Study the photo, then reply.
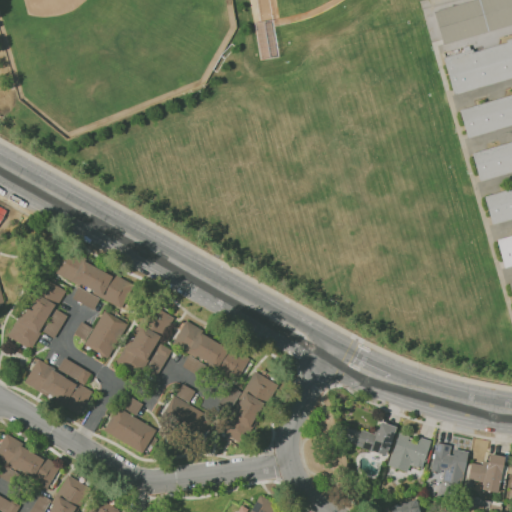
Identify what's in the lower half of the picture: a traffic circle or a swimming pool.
swimming pool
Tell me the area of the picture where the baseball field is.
top left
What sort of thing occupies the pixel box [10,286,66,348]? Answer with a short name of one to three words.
house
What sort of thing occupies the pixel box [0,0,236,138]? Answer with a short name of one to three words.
baseball field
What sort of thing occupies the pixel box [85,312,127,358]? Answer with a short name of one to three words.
house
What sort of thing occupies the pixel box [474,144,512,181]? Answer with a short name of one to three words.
building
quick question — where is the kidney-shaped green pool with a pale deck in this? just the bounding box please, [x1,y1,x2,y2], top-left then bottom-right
[358,452,386,479]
